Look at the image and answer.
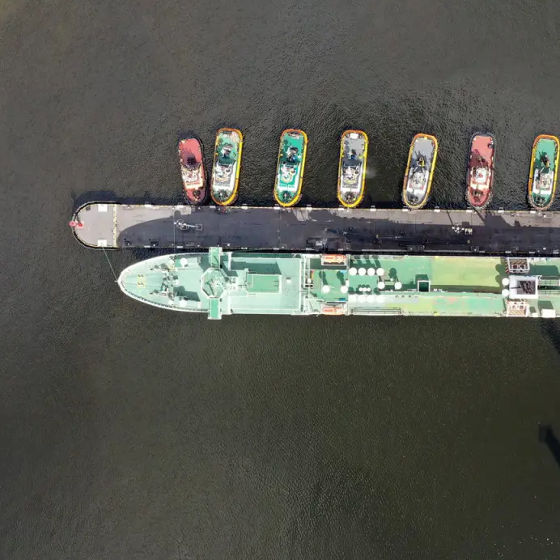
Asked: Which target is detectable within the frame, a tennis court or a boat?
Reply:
boat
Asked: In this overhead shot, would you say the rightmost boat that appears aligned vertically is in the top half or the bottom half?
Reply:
top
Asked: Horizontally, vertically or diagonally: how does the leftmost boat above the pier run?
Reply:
vertically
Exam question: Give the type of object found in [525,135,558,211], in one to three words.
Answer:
boat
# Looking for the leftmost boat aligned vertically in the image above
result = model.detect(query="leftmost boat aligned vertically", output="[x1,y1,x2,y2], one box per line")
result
[178,137,211,206]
